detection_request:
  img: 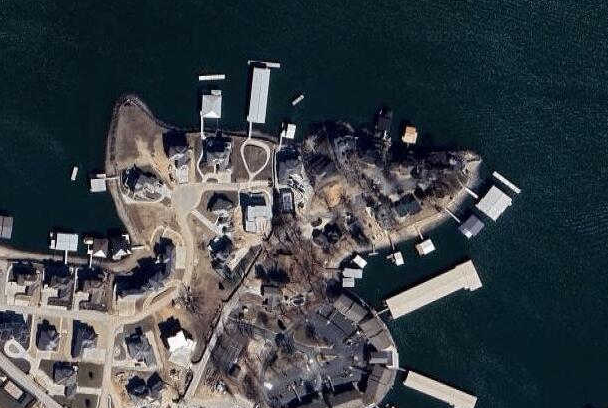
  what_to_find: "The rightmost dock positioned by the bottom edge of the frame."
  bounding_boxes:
[396,367,477,408]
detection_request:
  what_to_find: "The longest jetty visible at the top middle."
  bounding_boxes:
[247,62,281,141]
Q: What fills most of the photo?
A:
water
